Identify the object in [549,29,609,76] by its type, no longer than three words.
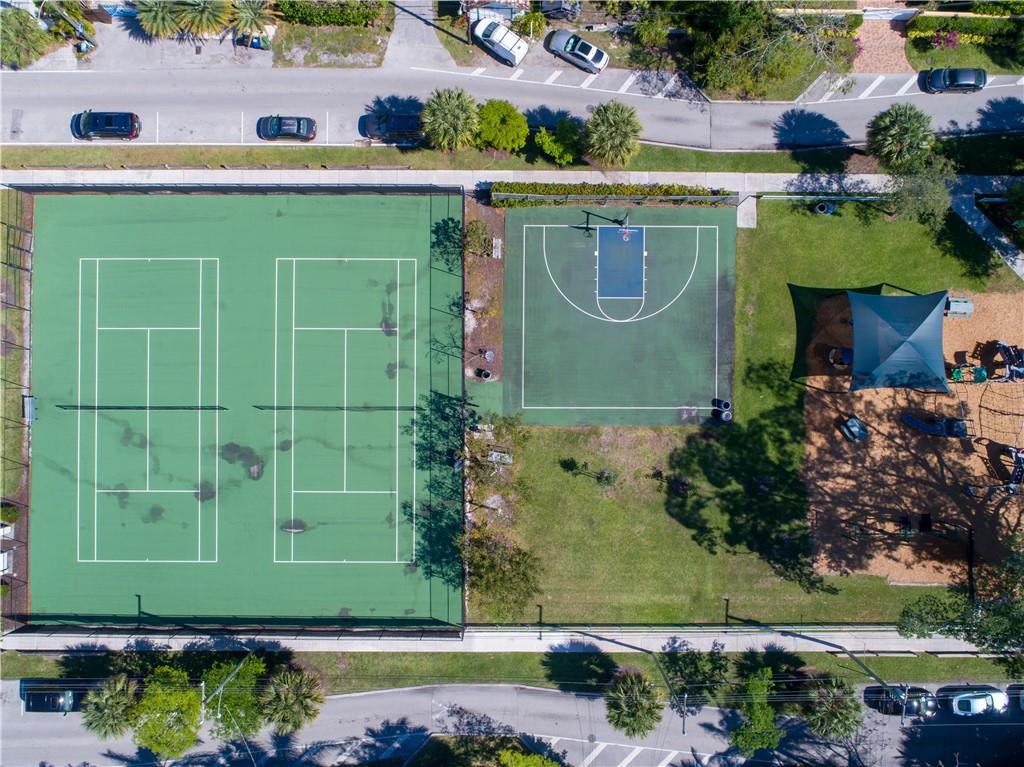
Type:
car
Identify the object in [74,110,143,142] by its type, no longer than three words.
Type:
van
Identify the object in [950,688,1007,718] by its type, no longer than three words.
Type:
car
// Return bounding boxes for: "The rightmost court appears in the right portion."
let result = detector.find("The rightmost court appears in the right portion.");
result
[503,206,737,426]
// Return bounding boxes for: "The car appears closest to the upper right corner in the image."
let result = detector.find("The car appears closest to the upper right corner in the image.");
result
[922,65,987,96]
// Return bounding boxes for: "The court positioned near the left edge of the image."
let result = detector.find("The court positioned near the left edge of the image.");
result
[29,194,246,626]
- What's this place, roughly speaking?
sports ground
